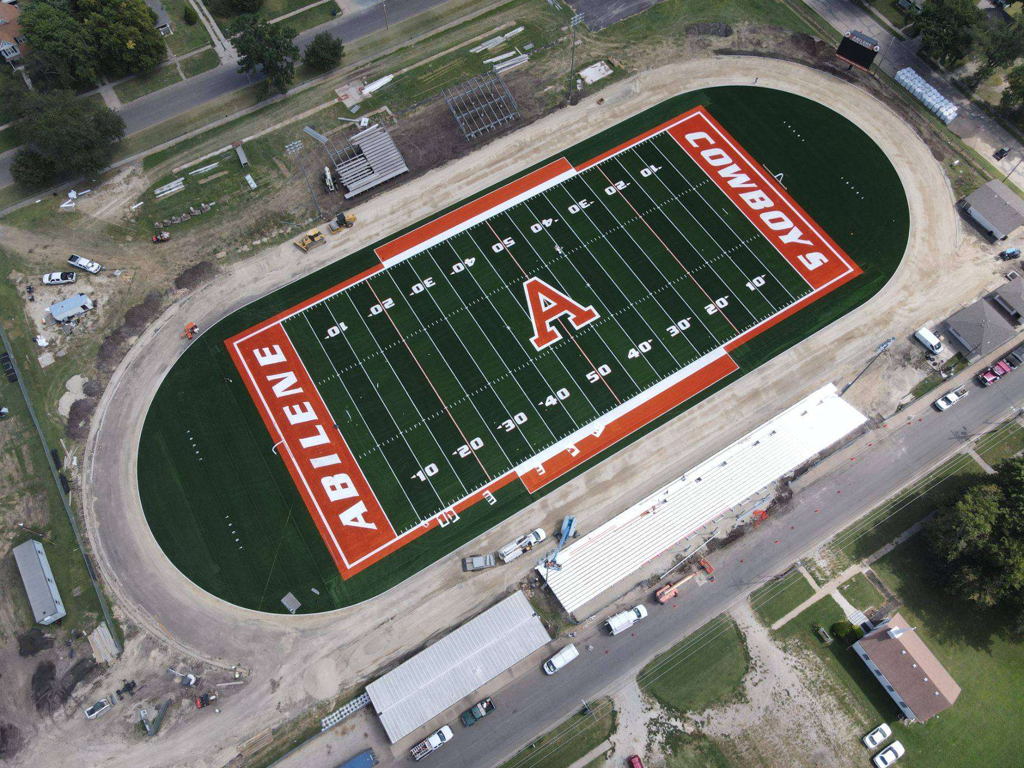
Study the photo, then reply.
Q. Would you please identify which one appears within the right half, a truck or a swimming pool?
truck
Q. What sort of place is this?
sports ground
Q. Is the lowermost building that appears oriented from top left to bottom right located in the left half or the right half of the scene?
right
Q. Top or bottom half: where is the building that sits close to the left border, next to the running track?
bottom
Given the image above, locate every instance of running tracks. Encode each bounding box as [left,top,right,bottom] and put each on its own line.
[80,49,961,682]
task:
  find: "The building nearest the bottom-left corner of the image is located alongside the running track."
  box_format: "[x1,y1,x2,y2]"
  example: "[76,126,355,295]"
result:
[14,537,65,630]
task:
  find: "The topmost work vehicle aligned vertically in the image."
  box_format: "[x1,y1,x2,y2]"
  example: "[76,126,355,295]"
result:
[321,164,335,197]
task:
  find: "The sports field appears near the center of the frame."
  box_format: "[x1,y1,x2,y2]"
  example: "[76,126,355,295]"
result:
[138,86,909,615]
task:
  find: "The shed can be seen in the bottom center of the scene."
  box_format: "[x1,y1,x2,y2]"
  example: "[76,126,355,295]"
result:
[366,590,551,742]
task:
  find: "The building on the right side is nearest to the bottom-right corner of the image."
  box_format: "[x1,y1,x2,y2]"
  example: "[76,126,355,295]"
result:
[846,611,962,722]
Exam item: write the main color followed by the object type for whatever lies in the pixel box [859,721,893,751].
white car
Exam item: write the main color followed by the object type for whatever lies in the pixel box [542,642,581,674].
white van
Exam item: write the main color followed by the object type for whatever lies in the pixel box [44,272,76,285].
white vehicle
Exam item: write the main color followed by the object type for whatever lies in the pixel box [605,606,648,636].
white truck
